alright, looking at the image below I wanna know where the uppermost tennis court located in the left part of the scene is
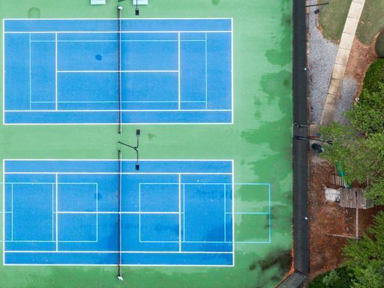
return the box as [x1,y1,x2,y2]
[3,18,233,125]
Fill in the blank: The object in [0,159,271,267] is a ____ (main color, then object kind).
blue tennis court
